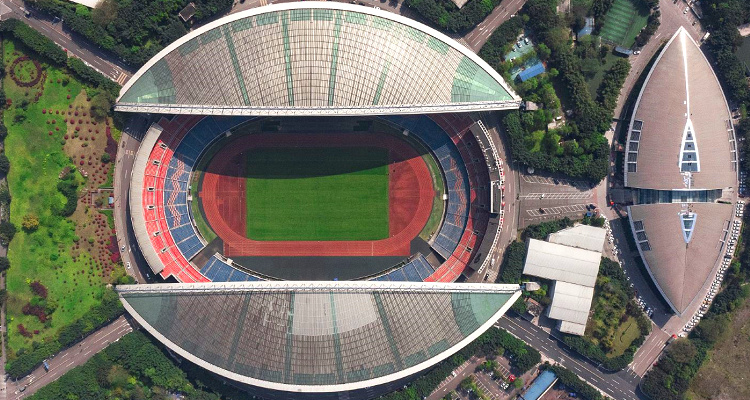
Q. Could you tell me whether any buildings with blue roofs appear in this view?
Yes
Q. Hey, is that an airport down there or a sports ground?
sports ground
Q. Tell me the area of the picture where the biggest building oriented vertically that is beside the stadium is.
right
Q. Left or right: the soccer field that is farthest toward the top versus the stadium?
to the right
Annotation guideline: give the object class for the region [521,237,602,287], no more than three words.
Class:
shed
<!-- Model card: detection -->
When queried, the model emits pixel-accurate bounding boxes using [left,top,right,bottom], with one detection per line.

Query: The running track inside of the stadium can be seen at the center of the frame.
[199,132,436,257]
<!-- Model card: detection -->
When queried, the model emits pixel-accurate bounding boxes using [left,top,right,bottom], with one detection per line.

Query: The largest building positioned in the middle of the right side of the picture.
[609,27,740,316]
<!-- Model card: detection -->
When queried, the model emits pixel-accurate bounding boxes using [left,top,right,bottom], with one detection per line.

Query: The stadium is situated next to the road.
[104,1,540,392]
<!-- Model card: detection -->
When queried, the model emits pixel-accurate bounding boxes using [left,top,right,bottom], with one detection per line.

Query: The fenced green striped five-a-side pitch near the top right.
[601,0,653,49]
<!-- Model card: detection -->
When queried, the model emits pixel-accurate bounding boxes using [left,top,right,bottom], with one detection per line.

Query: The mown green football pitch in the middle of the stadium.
[247,148,388,241]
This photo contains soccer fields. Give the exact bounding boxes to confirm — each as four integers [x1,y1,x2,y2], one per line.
[601,0,653,49]
[247,148,388,241]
